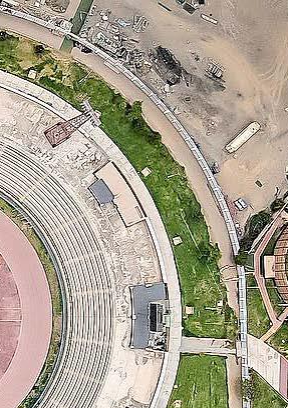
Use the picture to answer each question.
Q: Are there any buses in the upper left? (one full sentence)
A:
No, no bus can be made out in the upper left.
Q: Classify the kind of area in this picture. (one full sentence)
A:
The area seen from above is a sports ground.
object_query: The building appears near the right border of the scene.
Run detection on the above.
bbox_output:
[260,256,275,277]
